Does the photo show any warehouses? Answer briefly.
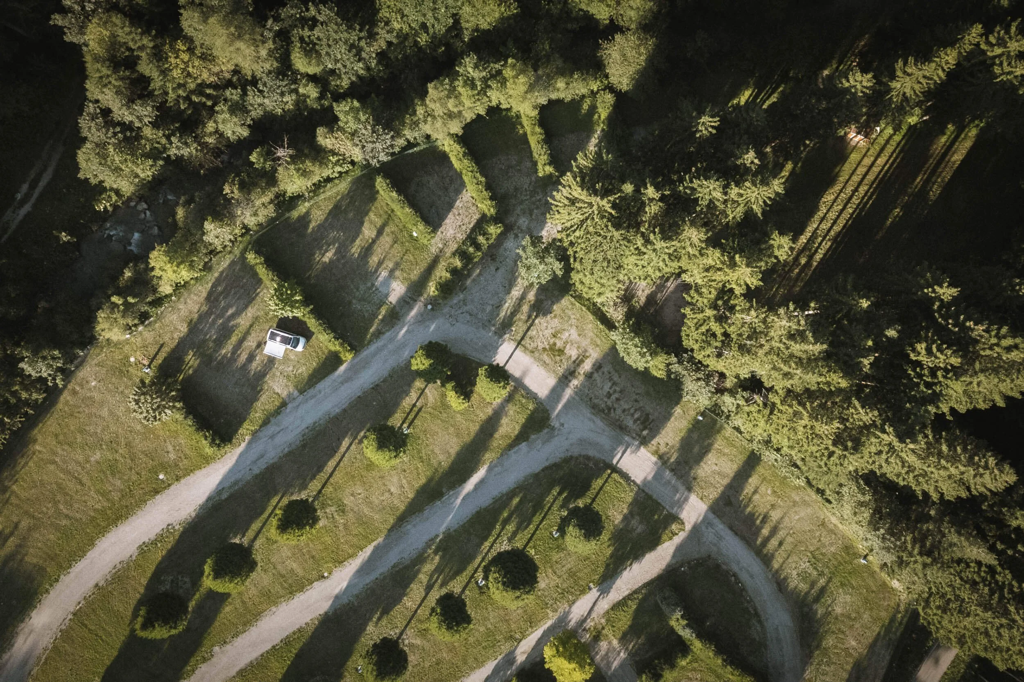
No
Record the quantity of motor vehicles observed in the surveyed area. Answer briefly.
1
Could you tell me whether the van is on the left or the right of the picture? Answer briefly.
left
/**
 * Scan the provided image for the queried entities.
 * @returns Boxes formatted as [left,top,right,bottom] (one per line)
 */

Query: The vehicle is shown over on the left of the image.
[259,326,308,359]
